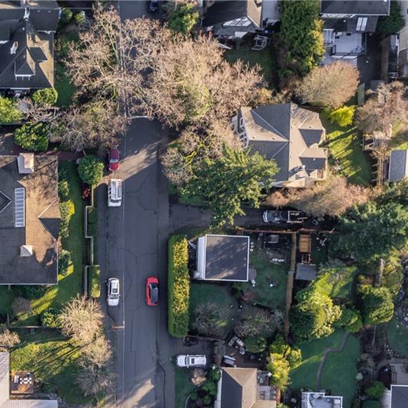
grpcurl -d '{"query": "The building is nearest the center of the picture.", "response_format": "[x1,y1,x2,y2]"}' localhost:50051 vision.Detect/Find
[198,234,249,282]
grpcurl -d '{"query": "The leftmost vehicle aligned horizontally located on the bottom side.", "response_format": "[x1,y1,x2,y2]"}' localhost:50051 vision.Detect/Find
[176,354,206,368]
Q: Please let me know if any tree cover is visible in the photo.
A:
Yes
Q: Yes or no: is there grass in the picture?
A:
Yes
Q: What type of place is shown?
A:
residential area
